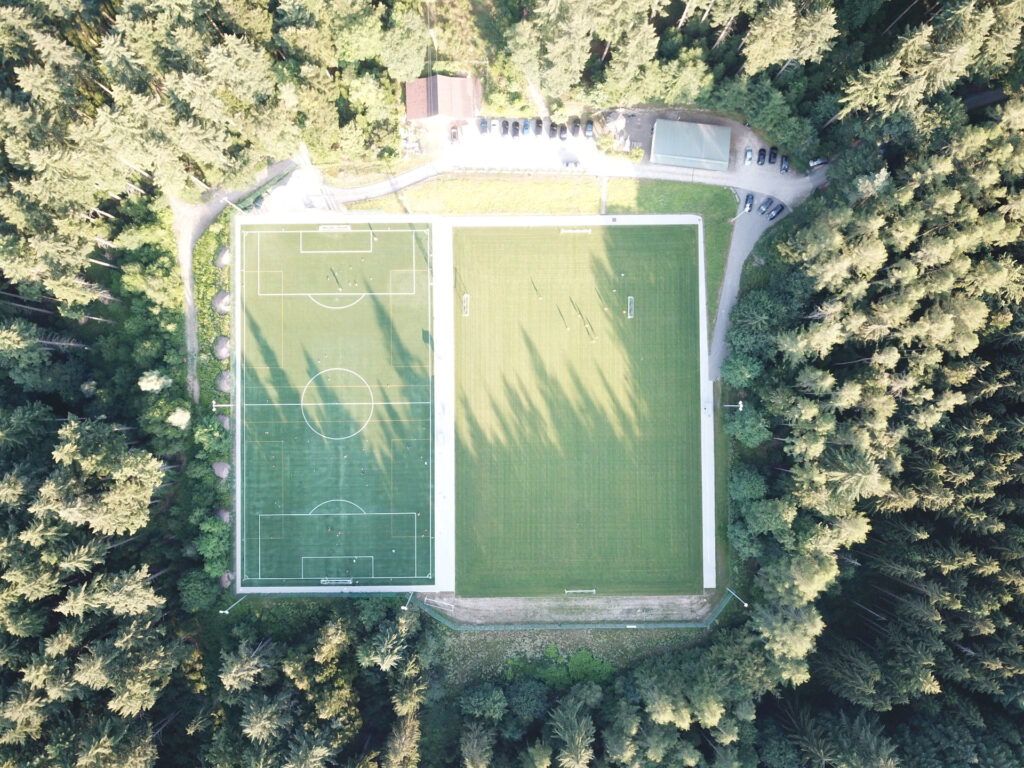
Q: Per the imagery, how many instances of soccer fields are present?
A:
2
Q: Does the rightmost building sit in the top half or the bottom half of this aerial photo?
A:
top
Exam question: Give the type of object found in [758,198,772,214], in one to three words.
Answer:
car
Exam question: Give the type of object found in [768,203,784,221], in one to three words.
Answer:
car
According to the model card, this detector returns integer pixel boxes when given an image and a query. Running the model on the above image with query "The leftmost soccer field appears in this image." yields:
[240,223,435,587]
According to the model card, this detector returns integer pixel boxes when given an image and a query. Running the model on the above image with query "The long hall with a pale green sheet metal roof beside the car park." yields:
[650,119,732,171]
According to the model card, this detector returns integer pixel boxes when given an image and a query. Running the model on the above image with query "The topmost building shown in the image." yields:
[407,72,483,122]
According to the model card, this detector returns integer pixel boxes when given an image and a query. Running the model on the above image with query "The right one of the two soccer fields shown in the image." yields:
[453,225,704,597]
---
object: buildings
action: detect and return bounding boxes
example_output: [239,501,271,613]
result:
[407,72,483,122]
[650,119,732,171]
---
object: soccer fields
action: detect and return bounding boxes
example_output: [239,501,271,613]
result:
[240,223,435,587]
[453,225,704,597]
